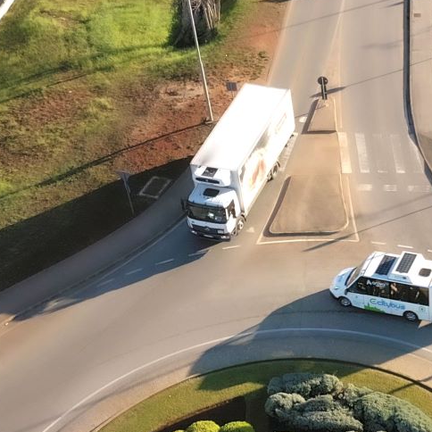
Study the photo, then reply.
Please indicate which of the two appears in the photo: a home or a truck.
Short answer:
truck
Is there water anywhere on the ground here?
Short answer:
No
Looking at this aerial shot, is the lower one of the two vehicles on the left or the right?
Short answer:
right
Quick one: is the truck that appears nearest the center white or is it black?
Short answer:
white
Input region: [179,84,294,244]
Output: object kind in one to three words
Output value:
truck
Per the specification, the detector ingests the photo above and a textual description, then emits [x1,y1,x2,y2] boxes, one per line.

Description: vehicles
[327,248,432,322]
[179,84,294,244]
